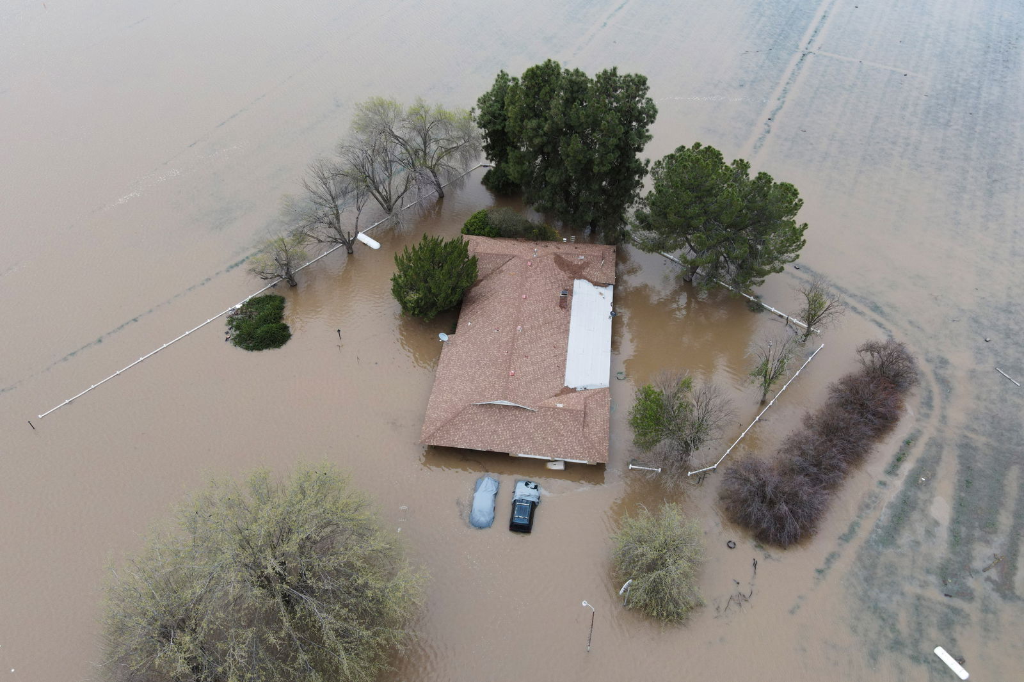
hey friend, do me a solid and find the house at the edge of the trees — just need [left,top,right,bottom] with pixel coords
[420,234,617,467]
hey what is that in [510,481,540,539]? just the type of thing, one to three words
car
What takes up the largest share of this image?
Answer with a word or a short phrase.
water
